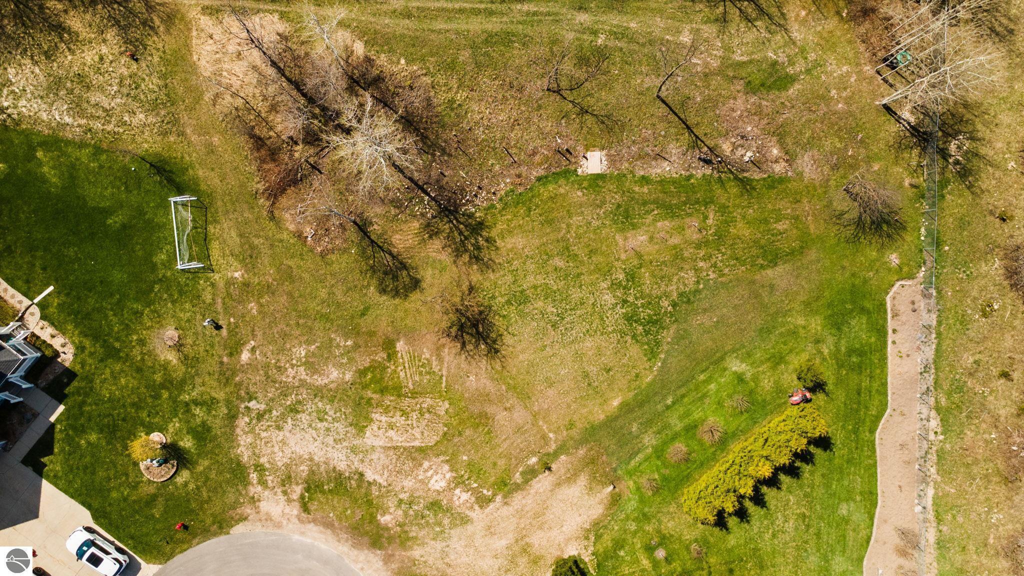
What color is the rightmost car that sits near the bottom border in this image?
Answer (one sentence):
The rightmost car that sits near the bottom border looks white in the image.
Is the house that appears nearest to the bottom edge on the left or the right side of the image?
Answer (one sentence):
It is on the left.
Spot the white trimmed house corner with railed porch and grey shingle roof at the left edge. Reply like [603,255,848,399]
[0,321,44,403]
